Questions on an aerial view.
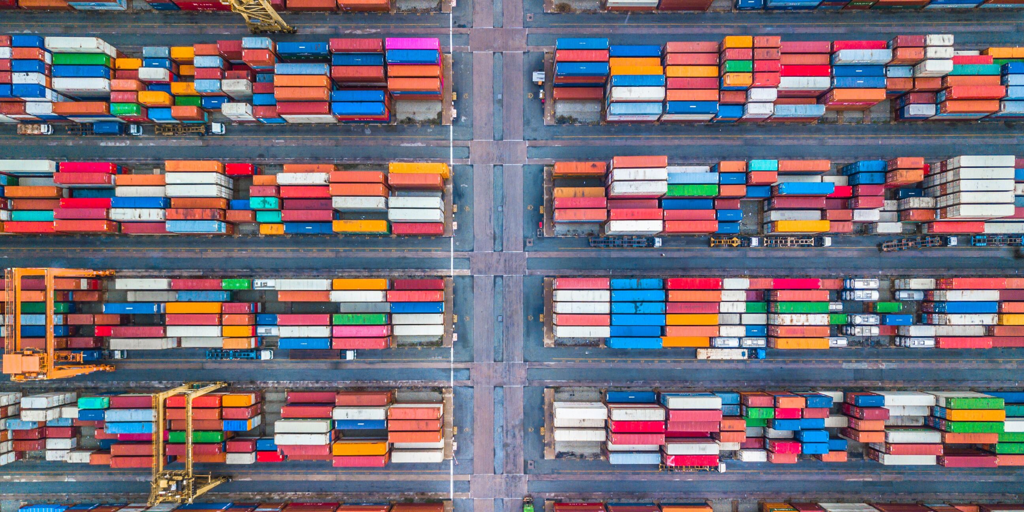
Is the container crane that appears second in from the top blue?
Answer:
No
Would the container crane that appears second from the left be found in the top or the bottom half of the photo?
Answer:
bottom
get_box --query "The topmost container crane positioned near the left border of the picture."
[1,264,117,379]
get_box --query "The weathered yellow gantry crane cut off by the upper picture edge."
[229,0,296,35]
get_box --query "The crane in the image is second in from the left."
[149,379,236,508]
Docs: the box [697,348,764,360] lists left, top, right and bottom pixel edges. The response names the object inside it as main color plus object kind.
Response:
white vehicle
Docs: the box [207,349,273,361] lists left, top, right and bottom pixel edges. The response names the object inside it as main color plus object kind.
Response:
blue vehicle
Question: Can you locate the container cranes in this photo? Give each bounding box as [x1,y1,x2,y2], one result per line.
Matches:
[149,379,236,508]
[1,264,117,379]
[229,0,296,35]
